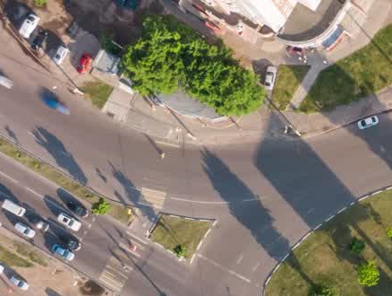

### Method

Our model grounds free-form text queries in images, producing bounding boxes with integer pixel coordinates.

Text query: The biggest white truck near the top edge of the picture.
[15,11,43,41]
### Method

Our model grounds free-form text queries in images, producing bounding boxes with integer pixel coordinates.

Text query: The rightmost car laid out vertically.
[263,66,276,90]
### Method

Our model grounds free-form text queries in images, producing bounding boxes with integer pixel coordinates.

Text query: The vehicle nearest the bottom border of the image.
[7,274,31,292]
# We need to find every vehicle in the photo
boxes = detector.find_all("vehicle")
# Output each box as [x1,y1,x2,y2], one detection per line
[57,213,82,230]
[286,46,307,56]
[44,94,67,112]
[61,233,84,251]
[52,45,70,65]
[116,0,140,10]
[0,72,10,84]
[263,66,276,90]
[30,216,55,233]
[13,221,38,239]
[15,11,43,41]
[0,197,30,218]
[29,28,49,52]
[76,52,93,75]
[52,243,75,260]
[7,274,31,292]
[63,198,88,216]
